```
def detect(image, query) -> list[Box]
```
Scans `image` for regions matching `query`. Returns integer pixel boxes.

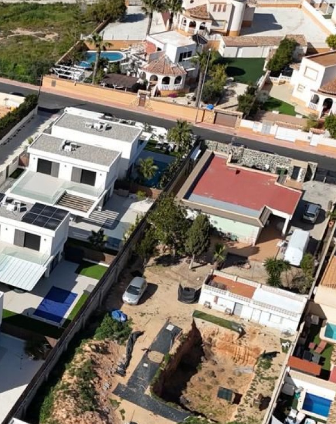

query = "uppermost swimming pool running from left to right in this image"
[73,50,128,70]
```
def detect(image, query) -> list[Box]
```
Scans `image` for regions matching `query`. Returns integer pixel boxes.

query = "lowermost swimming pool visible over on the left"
[29,283,81,326]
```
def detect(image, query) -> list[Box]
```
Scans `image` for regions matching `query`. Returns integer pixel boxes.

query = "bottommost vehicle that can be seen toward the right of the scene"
[285,224,315,264]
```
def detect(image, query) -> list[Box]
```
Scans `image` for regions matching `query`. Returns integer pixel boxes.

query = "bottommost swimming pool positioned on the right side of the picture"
[298,392,336,415]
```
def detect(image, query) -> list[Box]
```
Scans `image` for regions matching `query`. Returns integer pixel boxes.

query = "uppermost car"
[302,200,322,222]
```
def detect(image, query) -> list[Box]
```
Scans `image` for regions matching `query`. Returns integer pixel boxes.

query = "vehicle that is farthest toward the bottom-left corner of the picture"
[122,275,147,301]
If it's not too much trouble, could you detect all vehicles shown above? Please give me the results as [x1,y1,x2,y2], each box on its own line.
[285,224,315,264]
[122,275,147,301]
[302,200,322,222]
